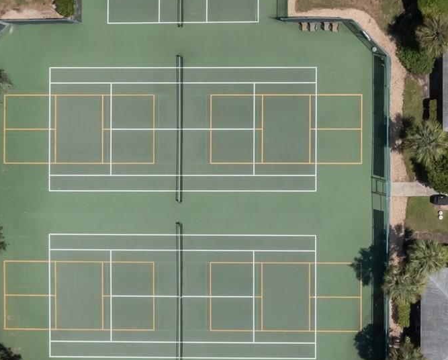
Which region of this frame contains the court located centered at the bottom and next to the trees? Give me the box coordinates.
[4,234,363,359]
